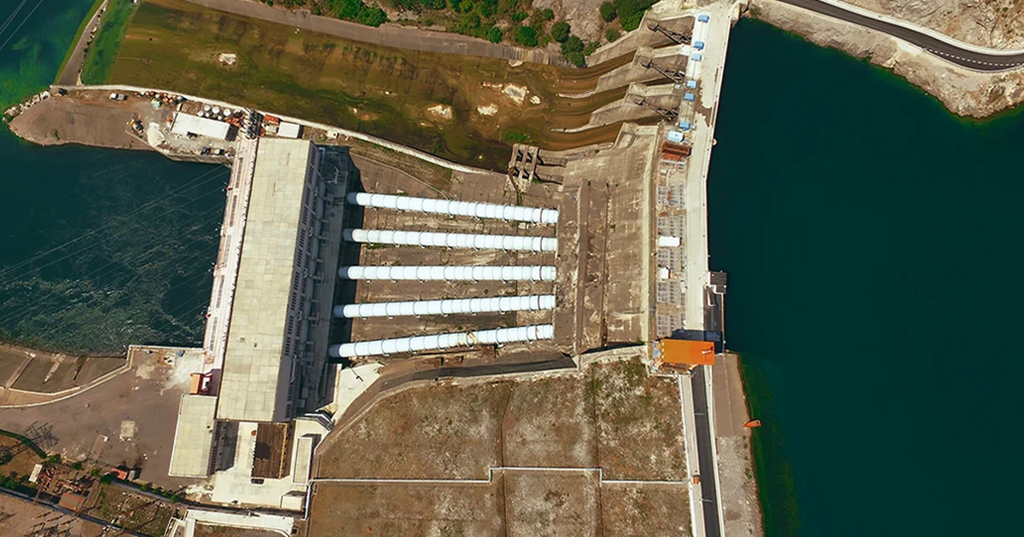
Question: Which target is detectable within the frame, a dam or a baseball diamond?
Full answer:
This aerial view contains a dam.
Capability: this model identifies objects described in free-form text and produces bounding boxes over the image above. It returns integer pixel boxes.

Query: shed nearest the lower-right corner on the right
[708,271,728,295]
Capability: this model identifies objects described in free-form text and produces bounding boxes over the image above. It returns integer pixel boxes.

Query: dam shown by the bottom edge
[313,354,692,537]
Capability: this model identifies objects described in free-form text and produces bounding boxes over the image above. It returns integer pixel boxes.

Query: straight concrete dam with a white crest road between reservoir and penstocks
[553,0,738,351]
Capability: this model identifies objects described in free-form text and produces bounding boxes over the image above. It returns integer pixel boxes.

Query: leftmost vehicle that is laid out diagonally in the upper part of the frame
[128,117,141,133]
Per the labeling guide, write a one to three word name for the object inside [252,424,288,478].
building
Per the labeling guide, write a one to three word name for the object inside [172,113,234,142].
shed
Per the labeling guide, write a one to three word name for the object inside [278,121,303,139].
shed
